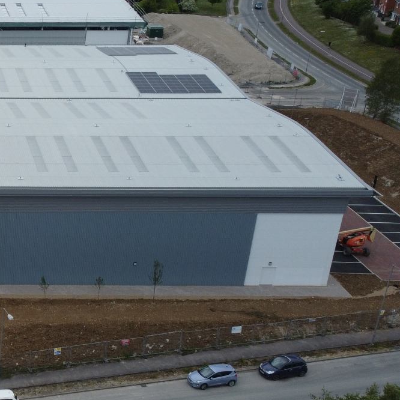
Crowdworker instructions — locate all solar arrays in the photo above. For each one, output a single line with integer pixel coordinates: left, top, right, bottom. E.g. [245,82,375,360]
[100,47,175,54]
[121,72,221,93]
